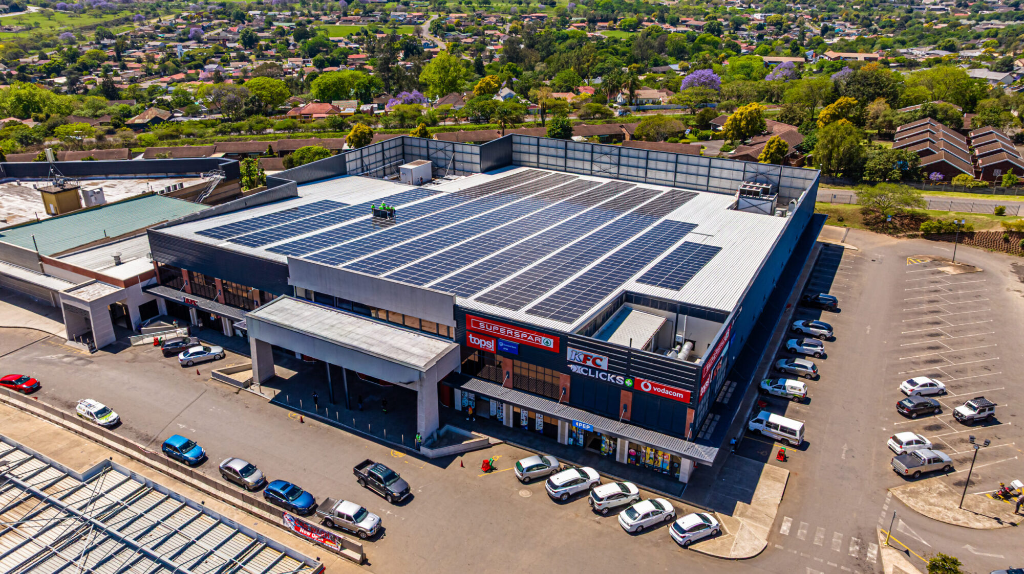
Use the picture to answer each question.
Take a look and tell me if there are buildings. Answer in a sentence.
Yes, there's a building down there.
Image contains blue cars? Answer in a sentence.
Yes, the frame does contain a blue car.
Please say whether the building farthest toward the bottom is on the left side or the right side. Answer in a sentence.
You can find the building farthest toward the bottom on the left side of the picture.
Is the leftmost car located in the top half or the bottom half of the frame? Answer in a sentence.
The leftmost car is in the bottom half of the image.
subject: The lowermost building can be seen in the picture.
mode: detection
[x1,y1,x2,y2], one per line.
[0,436,321,574]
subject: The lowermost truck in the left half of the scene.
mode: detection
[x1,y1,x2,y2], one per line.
[316,498,385,540]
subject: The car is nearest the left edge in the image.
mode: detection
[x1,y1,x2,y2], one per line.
[5,368,42,392]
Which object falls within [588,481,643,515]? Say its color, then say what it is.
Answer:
white car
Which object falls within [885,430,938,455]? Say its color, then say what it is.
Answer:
white car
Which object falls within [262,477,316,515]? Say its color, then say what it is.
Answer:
blue car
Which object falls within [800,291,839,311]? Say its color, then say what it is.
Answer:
black car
